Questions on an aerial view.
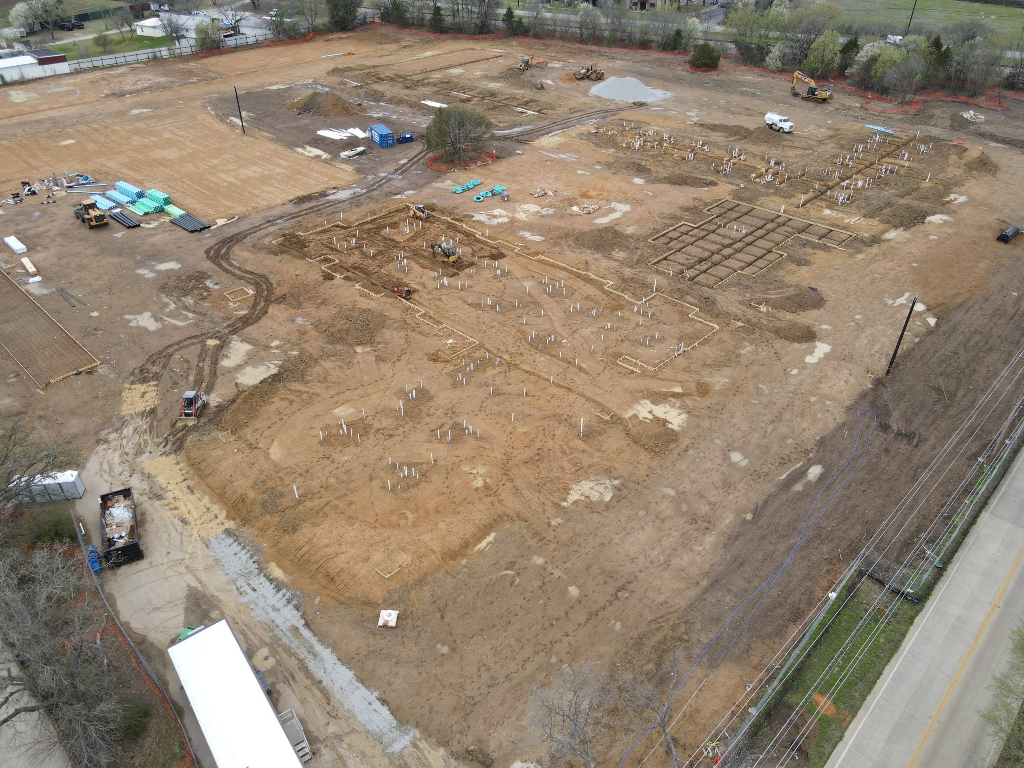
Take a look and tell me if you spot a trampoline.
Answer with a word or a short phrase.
No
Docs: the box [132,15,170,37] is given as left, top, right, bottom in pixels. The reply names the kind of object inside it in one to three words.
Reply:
house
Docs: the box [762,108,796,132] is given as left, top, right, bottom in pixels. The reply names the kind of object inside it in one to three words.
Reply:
truck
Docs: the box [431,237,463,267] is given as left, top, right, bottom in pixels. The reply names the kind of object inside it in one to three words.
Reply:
work vehicle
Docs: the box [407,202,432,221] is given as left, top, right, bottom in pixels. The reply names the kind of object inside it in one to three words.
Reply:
work vehicle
